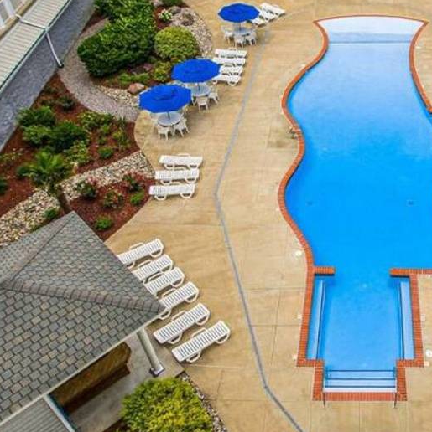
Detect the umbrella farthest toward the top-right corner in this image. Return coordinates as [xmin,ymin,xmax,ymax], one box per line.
[218,2,260,33]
